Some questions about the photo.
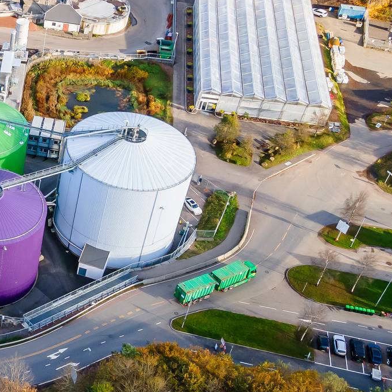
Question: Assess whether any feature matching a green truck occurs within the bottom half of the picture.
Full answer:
Yes, within the bottom half of the picture there is a green truck.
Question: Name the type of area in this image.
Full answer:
It's an industrial area.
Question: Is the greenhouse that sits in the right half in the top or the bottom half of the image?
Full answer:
The top half of the photo is where the greenhouse that sits in the right half is.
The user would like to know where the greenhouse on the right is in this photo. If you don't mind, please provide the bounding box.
[195,0,329,119]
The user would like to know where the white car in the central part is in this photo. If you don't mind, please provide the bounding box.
[184,196,204,213]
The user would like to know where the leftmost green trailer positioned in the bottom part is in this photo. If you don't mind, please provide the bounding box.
[178,276,221,309]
